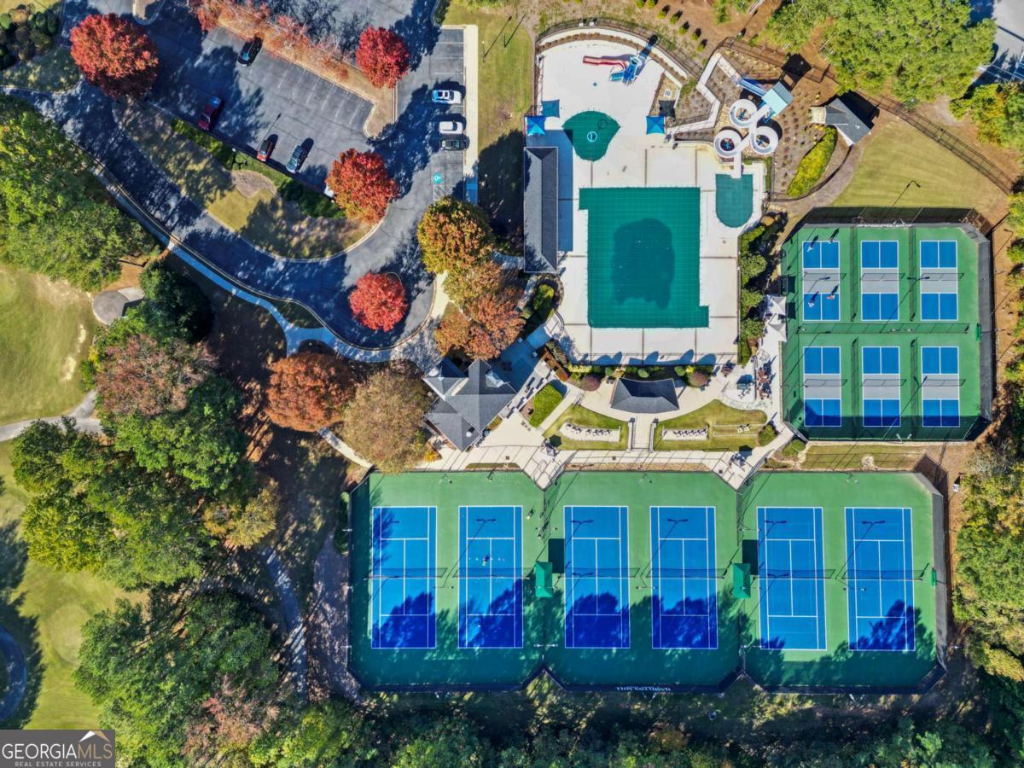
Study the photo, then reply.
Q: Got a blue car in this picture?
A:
Yes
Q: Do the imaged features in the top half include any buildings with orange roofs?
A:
No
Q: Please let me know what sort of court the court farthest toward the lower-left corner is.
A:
tennis court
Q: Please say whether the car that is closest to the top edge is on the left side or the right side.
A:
left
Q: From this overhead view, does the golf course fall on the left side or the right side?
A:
left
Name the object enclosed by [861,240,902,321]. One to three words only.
sports court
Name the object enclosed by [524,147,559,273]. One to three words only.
building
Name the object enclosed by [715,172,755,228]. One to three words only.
swimming pool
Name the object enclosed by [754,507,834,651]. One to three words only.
tennis court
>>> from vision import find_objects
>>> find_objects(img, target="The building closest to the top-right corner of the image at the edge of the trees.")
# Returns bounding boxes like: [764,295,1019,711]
[809,98,870,148]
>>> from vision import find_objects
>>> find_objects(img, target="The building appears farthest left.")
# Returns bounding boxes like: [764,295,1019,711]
[423,355,517,450]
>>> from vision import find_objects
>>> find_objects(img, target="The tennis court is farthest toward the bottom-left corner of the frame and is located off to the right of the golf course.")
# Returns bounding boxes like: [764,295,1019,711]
[364,507,442,649]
